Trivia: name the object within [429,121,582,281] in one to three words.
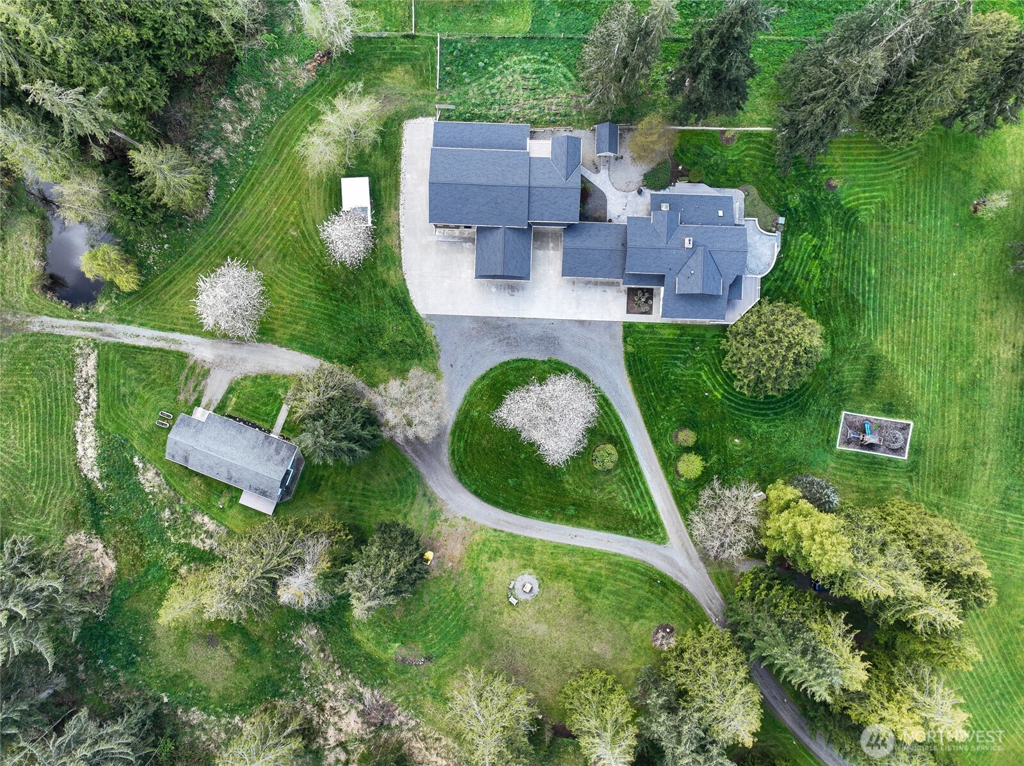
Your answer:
building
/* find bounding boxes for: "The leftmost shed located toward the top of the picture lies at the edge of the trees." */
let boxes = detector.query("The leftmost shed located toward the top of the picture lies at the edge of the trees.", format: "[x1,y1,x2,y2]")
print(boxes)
[341,177,374,228]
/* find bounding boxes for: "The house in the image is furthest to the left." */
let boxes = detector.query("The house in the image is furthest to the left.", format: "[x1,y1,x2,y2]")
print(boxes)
[166,407,306,515]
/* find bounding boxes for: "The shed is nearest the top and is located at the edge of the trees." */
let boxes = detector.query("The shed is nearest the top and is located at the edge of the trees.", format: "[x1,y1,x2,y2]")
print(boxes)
[596,122,619,158]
